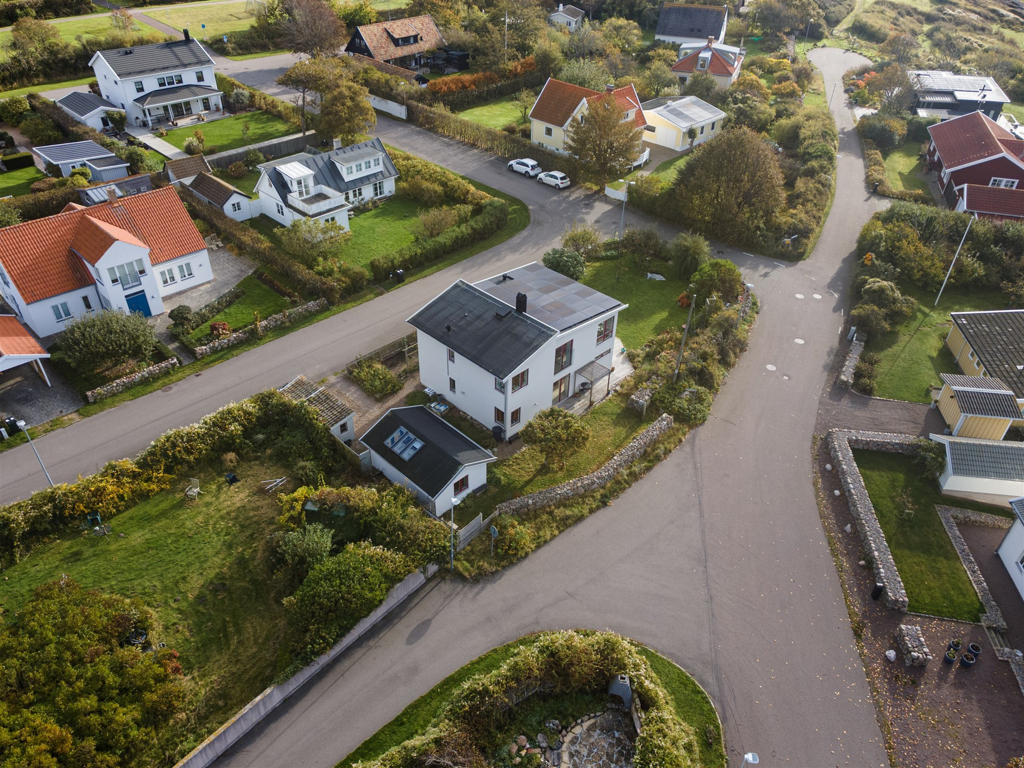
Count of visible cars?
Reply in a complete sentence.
My tally gives 2 cars in this view.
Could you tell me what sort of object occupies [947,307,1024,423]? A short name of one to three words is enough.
house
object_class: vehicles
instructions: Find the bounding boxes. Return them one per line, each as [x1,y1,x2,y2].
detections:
[507,155,543,177]
[537,169,573,189]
